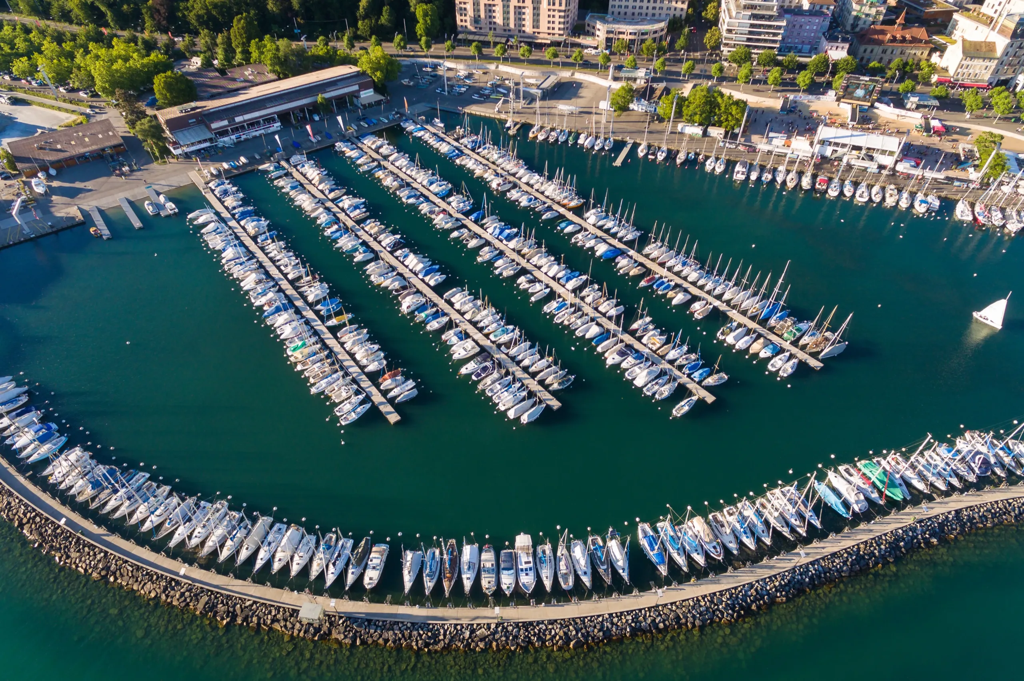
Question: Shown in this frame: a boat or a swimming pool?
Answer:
boat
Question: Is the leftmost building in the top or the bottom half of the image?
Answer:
top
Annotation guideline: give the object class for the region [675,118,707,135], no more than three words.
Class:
vehicle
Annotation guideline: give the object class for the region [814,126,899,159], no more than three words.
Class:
tent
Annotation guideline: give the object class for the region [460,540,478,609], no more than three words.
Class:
boat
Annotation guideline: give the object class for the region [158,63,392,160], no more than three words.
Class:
building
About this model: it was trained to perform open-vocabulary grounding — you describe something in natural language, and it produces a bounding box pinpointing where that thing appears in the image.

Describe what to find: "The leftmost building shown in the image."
[7,119,126,178]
